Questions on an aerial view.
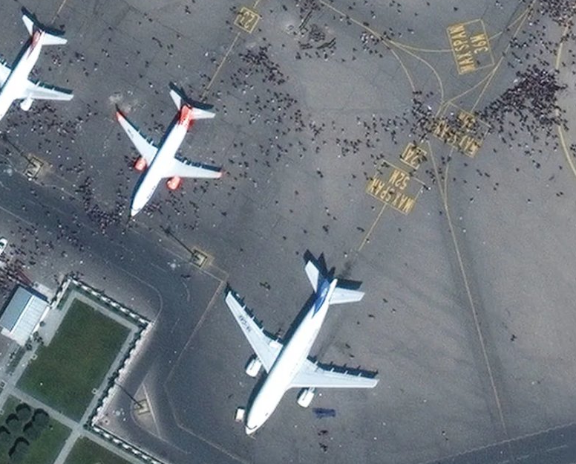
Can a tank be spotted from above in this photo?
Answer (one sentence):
No, I find no tank anywhere in the image.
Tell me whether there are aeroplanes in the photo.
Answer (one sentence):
Yes, looking at the shot, I can spot an aeroplane.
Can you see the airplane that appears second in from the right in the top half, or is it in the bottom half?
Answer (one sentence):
The airplane that appears second in from the right sits in the top half of the picture.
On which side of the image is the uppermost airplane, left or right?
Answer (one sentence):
It is on the left.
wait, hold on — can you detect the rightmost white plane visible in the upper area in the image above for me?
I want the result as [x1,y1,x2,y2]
[115,87,220,217]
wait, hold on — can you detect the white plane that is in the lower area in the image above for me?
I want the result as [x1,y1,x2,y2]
[227,261,377,435]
